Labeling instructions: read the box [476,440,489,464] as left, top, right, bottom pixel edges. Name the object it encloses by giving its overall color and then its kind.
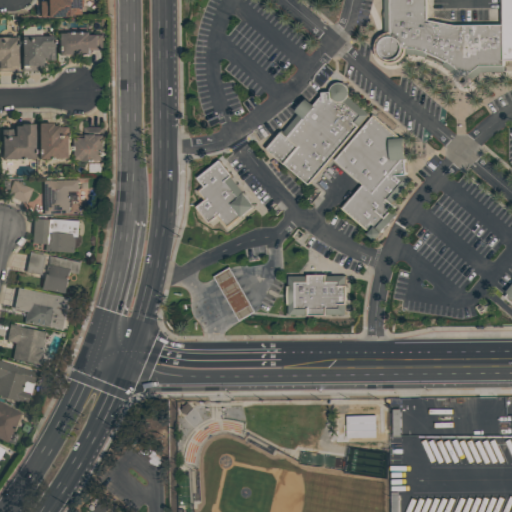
white vehicle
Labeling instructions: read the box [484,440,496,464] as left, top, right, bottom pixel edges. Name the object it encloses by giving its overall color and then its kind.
white vehicle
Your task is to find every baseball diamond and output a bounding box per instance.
[196,430,388,512]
